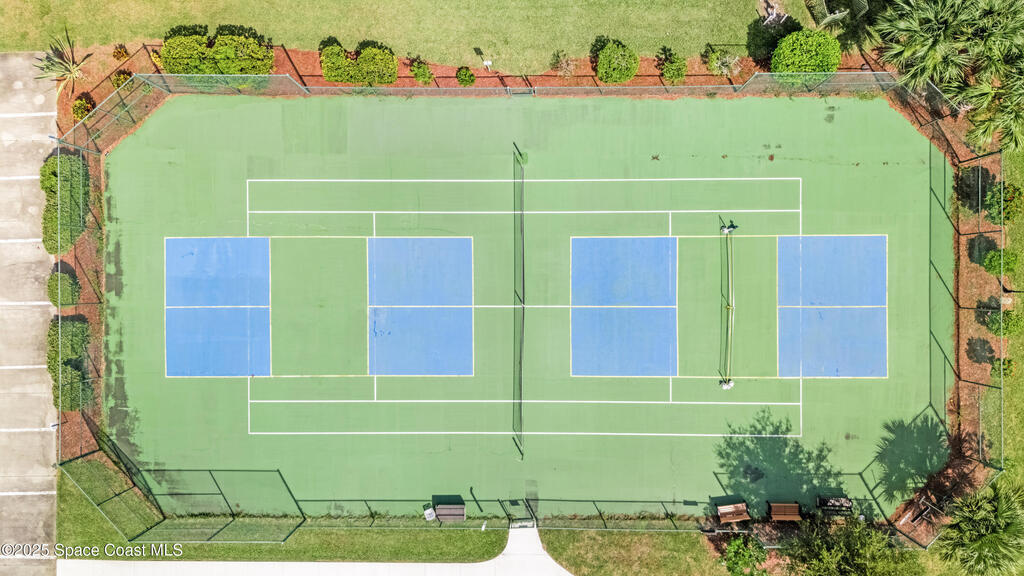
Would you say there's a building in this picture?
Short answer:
No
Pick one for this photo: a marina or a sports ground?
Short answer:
sports ground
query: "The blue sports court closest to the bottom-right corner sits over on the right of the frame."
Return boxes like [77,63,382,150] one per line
[571,235,888,380]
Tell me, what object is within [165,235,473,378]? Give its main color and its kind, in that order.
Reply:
blue sports court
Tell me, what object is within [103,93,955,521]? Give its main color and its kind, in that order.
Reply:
green tennis court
